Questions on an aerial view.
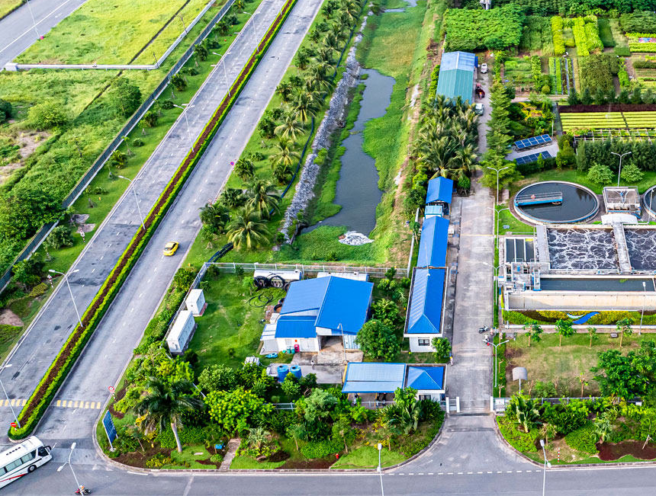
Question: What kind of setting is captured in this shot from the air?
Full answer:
What you see here is an industrial area.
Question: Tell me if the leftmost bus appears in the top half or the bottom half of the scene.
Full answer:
Seen from above, the leftmost bus lies in the bottom half of the view.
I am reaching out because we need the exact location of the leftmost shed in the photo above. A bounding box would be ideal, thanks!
[254,275,371,355]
